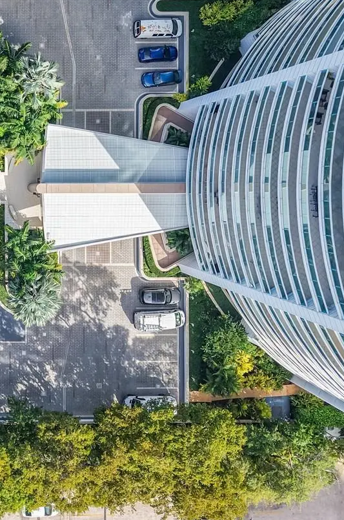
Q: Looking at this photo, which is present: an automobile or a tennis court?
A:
automobile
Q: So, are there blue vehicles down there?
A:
Yes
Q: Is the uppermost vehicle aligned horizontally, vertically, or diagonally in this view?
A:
horizontally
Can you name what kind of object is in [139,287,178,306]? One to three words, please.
car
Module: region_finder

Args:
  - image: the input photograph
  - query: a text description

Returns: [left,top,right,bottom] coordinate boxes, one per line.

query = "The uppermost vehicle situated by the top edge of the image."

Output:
[133,17,181,38]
